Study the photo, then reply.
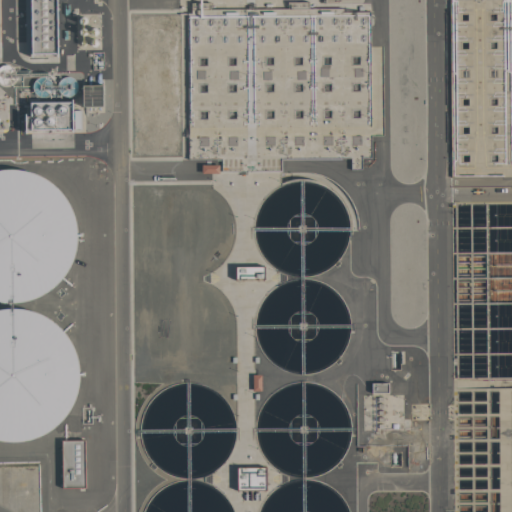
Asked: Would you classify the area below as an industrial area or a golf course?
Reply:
industrial area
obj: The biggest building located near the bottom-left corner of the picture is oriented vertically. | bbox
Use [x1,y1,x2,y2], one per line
[63,424,86,490]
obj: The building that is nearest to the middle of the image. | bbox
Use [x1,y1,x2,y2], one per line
[238,268,266,282]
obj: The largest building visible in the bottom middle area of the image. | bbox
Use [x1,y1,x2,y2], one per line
[238,468,267,492]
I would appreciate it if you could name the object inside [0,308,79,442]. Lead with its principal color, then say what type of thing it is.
white storage tank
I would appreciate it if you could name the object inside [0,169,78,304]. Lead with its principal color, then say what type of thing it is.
white storage tank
